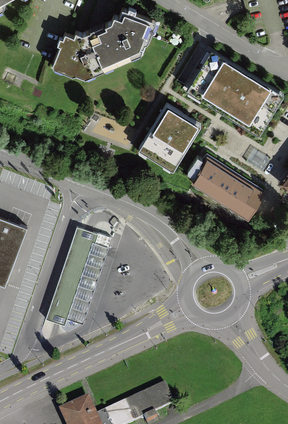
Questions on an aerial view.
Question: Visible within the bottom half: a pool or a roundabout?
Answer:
roundabout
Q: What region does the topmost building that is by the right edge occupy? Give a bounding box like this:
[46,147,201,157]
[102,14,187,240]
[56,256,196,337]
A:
[187,50,284,137]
